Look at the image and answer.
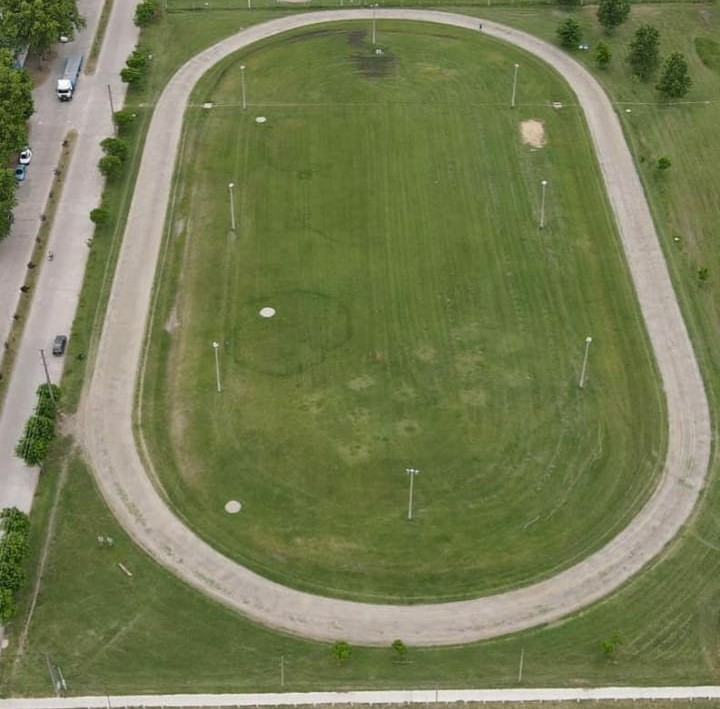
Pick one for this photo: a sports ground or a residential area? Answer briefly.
sports ground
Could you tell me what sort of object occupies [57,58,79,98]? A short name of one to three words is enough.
truck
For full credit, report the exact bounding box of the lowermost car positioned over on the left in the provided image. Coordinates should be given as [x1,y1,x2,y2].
[52,336,66,356]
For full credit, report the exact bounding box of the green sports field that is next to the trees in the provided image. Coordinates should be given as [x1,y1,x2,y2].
[131,19,669,605]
